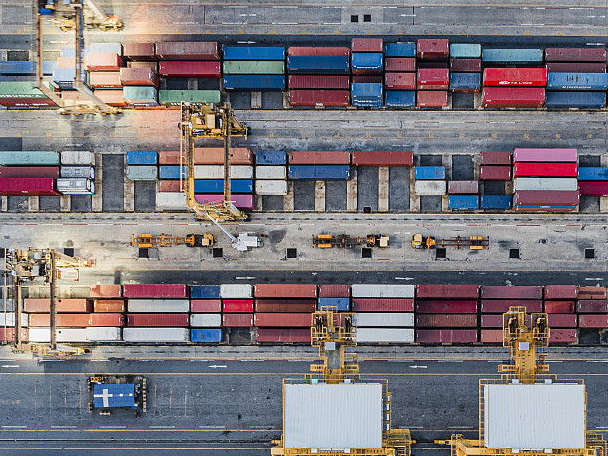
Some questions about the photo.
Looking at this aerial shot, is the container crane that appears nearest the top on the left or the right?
left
